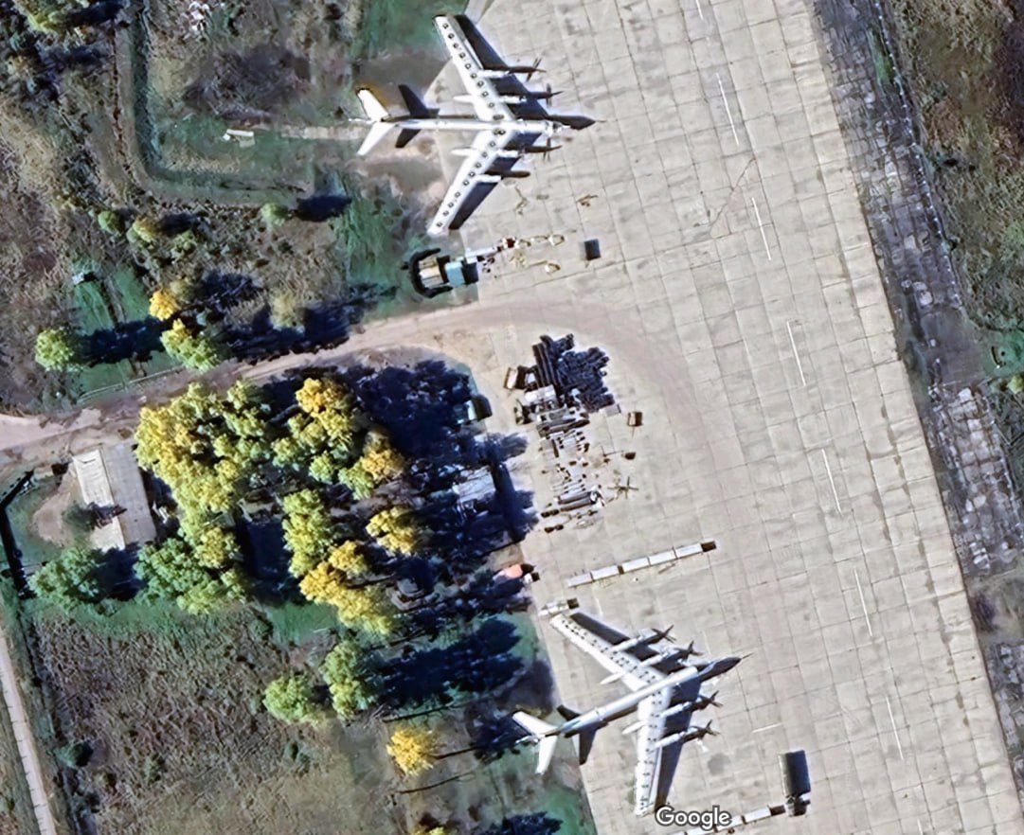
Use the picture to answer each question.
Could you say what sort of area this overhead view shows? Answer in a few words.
airport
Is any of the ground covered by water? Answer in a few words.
No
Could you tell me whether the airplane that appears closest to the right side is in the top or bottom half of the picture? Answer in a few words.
bottom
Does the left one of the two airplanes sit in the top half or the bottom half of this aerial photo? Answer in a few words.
top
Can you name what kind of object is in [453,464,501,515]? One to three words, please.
shed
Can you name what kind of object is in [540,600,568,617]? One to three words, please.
vehicle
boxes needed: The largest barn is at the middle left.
[73,443,155,552]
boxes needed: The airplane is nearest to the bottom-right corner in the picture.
[511,611,732,818]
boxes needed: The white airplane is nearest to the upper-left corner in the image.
[348,17,572,231]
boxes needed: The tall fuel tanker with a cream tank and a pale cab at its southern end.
[779,756,796,819]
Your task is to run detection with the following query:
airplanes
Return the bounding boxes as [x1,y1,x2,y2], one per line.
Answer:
[348,17,572,231]
[511,611,732,818]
